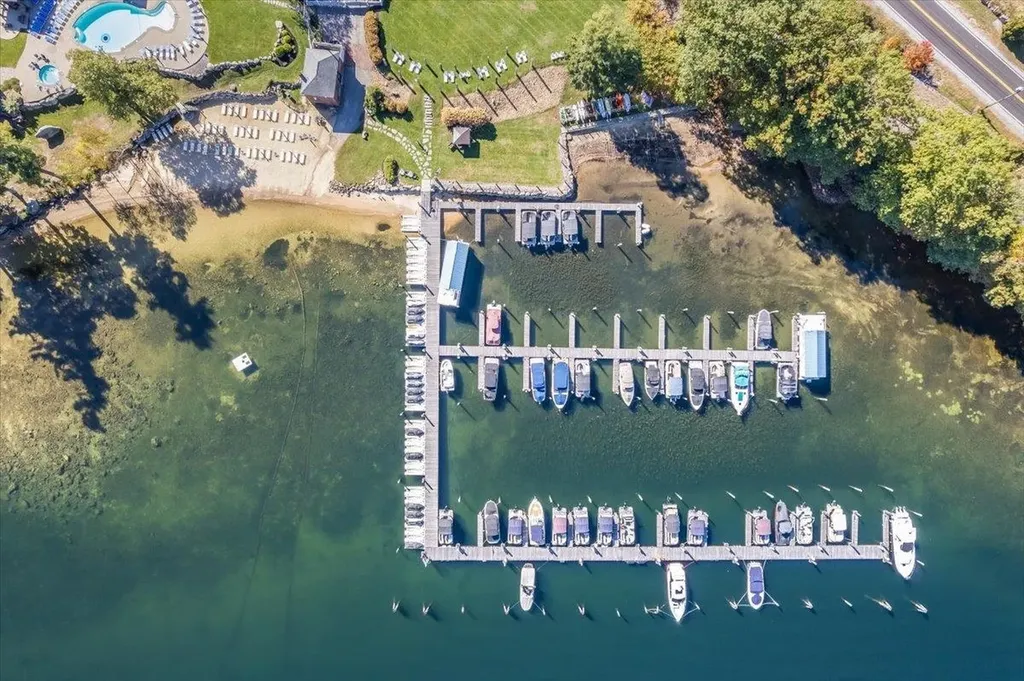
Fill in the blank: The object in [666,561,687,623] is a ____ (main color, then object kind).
white boat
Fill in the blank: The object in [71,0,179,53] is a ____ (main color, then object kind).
white swimming pool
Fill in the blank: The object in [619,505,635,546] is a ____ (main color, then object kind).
white boat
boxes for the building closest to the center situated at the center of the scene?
[437,239,470,308]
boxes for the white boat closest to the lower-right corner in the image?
[891,503,919,580]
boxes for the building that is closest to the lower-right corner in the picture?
[793,313,826,380]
